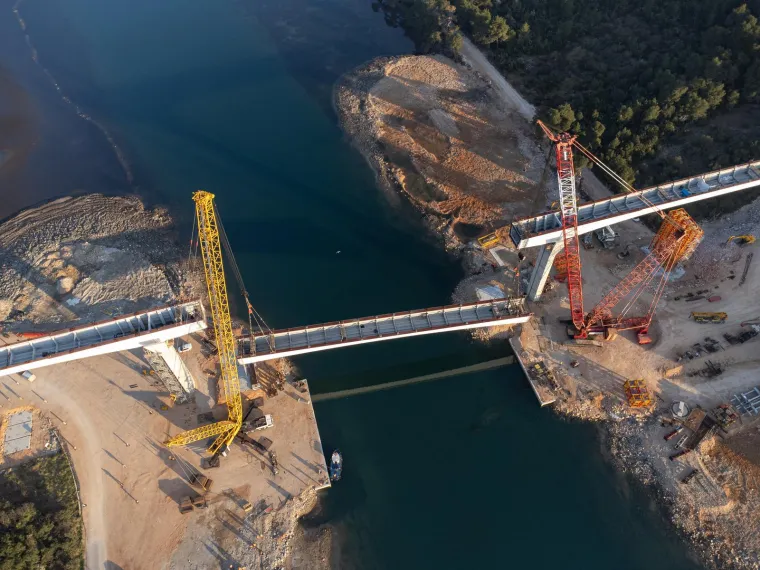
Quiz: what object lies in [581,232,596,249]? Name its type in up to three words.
vehicle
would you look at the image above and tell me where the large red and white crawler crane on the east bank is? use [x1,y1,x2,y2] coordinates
[476,131,687,344]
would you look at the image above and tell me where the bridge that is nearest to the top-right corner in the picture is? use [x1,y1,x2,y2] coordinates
[508,162,760,297]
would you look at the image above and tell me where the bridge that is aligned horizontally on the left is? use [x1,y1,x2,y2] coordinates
[0,298,210,387]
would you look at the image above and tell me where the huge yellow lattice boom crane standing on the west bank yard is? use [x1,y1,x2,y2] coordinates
[163,189,278,494]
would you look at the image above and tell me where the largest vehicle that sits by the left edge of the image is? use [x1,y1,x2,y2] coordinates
[17,370,36,384]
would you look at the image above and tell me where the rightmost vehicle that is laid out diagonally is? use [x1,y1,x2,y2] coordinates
[734,321,760,344]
